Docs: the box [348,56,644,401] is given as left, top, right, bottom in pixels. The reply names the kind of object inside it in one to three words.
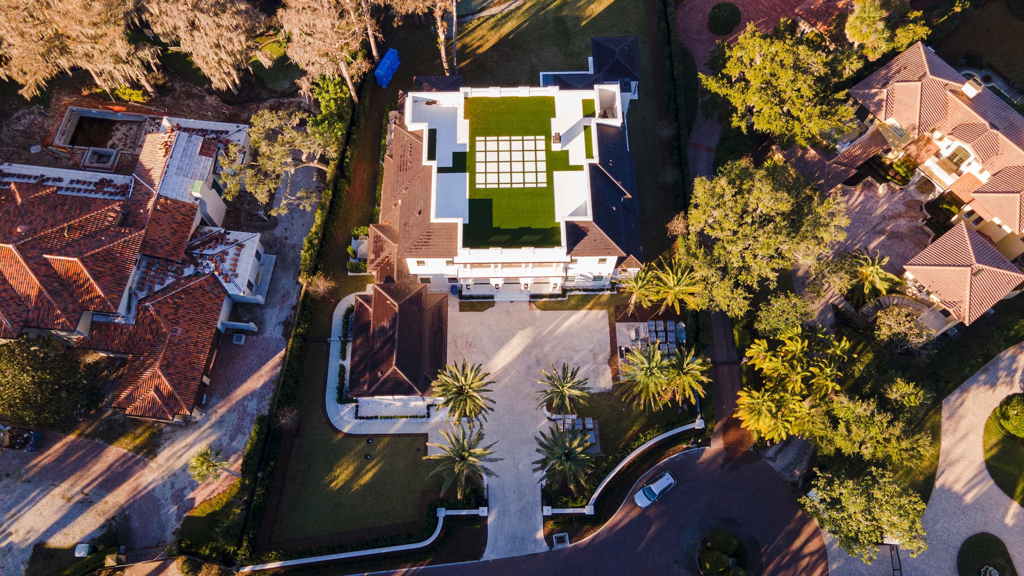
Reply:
house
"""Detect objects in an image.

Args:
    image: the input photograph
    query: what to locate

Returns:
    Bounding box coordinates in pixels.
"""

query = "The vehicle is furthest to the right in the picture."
[633,467,681,511]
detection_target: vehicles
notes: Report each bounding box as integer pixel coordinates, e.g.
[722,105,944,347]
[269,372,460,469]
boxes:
[633,467,681,511]
[73,544,104,558]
